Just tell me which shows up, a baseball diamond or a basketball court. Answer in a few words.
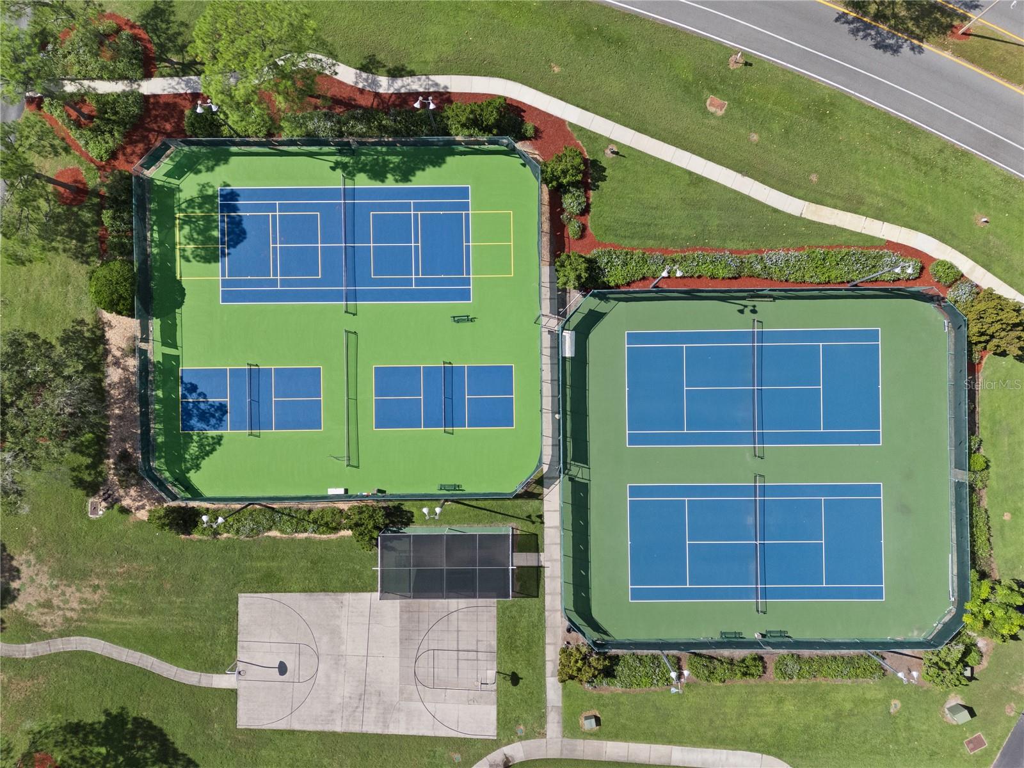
basketball court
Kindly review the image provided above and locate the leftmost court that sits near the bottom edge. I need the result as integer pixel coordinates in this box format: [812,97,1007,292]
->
[237,593,497,739]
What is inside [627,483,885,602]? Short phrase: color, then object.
blue tennis court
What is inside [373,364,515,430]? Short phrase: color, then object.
blue sports court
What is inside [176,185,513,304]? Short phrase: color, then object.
blue tennis court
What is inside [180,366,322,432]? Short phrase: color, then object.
blue sports court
